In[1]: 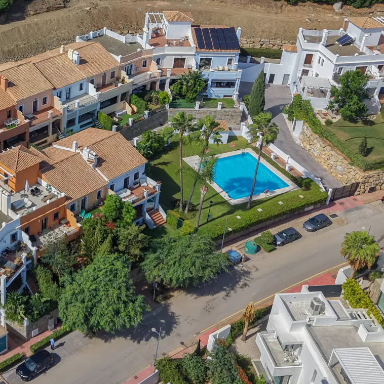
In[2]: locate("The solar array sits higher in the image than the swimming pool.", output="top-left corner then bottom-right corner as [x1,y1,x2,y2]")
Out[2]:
[195,27,239,49]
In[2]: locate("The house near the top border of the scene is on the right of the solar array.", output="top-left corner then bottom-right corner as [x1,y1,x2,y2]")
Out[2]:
[292,13,384,110]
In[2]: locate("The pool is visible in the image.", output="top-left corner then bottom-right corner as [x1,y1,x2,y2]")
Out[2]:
[184,148,300,208]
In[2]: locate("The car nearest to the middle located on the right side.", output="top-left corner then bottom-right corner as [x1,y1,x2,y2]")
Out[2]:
[276,224,303,245]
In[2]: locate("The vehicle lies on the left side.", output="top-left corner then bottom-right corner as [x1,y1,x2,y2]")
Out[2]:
[14,345,54,382]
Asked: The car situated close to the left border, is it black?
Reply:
Yes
